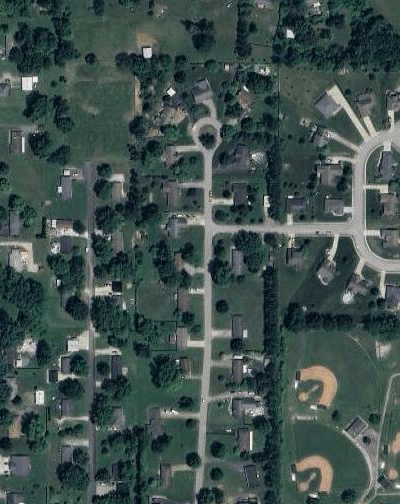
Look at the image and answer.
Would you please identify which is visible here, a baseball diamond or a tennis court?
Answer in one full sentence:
This aerial view contains a baseball diamond.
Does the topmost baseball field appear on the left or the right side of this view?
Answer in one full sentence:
The topmost baseball field appears in the right half of the scene.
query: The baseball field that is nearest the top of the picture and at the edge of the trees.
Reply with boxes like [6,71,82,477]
[298,324,380,406]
